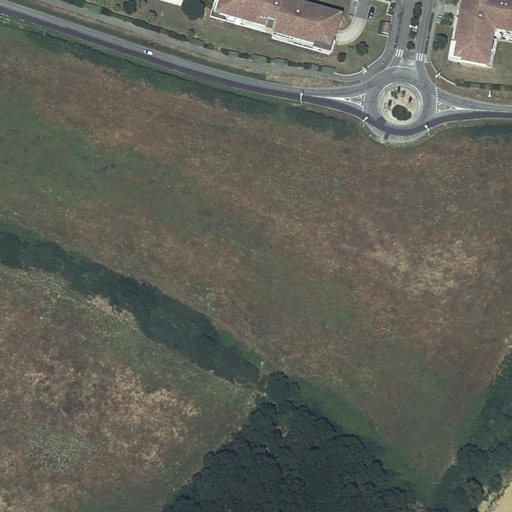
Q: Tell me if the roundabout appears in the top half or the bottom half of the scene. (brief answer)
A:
top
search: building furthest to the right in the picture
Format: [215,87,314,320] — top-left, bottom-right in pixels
[448,0,512,68]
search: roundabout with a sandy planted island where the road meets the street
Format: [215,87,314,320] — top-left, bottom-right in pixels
[309,56,512,143]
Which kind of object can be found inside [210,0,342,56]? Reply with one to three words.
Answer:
house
